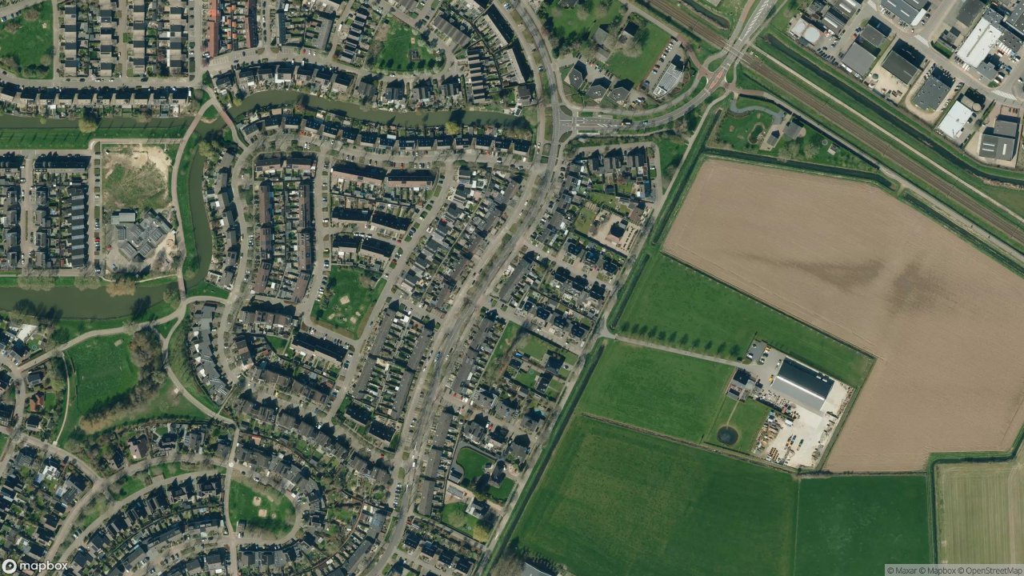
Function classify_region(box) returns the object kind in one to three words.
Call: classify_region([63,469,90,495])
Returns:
house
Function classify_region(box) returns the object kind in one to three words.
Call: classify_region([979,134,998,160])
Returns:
building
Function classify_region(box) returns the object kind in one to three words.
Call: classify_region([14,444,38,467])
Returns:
house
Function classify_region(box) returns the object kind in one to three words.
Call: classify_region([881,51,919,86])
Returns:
building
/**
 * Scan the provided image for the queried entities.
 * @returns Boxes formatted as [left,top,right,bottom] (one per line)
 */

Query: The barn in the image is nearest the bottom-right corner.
[772,367,830,411]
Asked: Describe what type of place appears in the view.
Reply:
residential area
